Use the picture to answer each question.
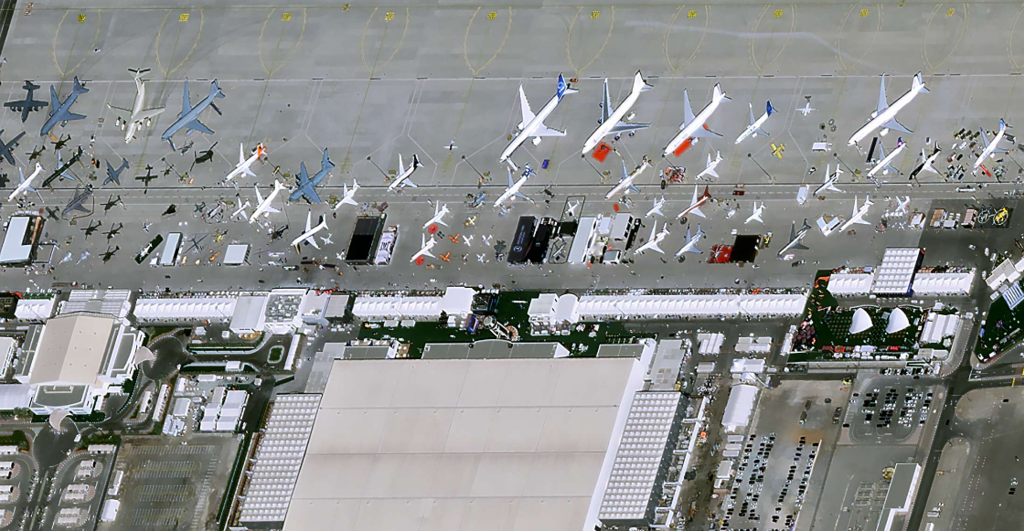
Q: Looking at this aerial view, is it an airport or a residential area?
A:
airport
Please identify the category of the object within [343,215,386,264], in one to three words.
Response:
building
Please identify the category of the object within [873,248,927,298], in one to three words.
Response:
building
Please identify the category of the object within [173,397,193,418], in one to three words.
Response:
tent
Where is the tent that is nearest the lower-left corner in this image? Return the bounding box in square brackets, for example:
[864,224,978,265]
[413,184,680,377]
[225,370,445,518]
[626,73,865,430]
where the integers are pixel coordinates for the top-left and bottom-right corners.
[100,499,123,523]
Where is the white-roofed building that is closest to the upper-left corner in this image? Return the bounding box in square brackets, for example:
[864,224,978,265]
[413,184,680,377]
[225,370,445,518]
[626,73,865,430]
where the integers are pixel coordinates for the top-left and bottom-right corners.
[0,217,35,266]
